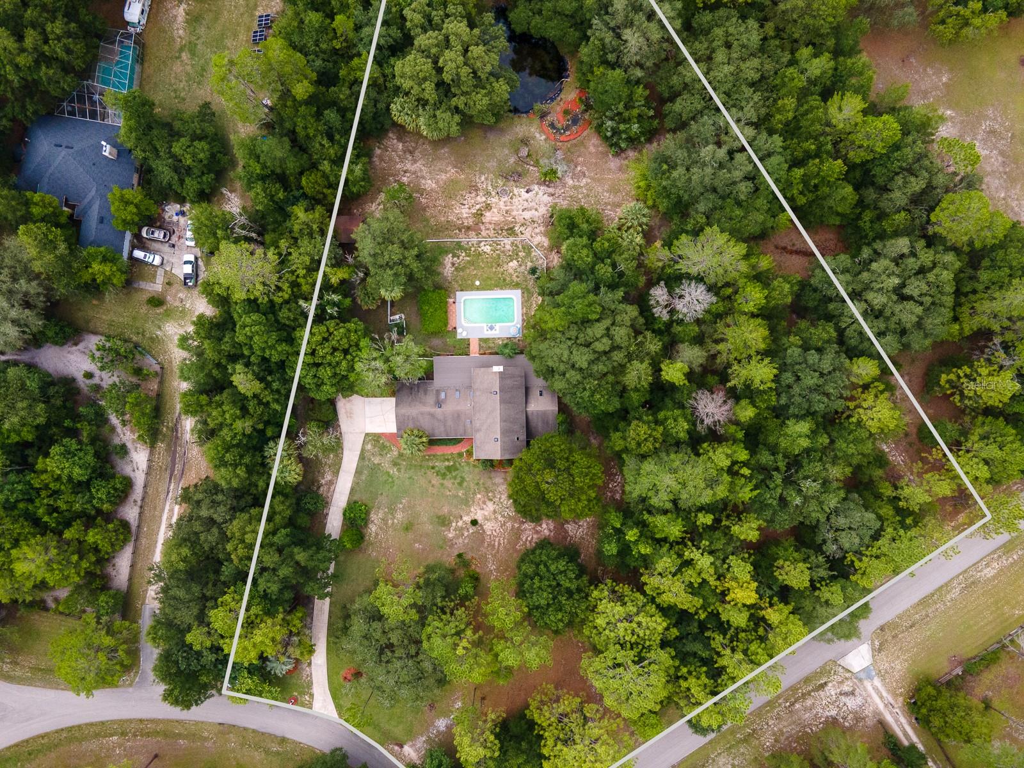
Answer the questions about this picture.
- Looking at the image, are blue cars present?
No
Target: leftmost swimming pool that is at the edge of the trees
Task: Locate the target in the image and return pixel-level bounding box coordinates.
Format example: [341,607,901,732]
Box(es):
[64,28,145,122]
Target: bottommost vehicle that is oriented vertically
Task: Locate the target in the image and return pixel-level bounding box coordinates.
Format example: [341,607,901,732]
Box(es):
[182,254,198,288]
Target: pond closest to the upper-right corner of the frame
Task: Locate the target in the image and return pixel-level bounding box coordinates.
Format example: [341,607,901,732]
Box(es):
[493,0,568,114]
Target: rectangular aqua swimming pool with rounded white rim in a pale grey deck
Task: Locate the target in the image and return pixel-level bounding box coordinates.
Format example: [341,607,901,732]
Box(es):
[456,290,522,339]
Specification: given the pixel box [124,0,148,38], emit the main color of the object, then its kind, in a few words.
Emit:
white camper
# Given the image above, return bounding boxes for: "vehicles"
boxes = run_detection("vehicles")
[141,226,171,243]
[124,0,148,38]
[185,220,199,247]
[182,254,198,288]
[132,249,164,266]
